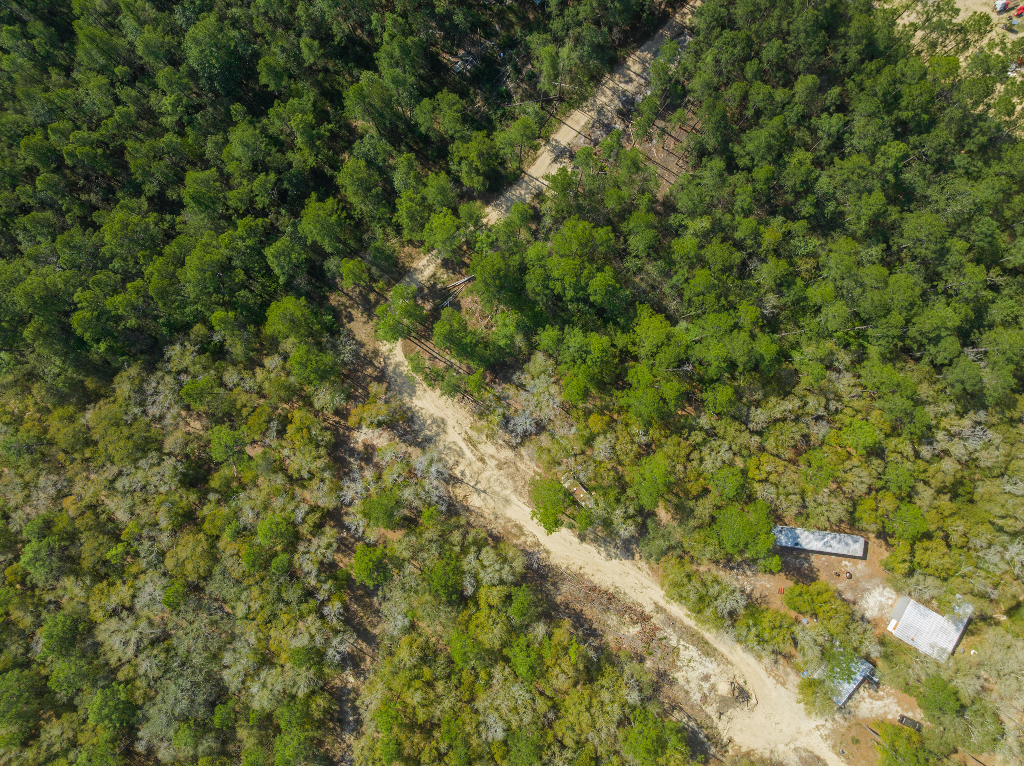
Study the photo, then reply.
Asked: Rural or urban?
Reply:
rural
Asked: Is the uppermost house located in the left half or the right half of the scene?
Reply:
right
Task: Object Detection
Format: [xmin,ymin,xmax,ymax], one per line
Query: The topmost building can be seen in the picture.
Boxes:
[775,525,865,556]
